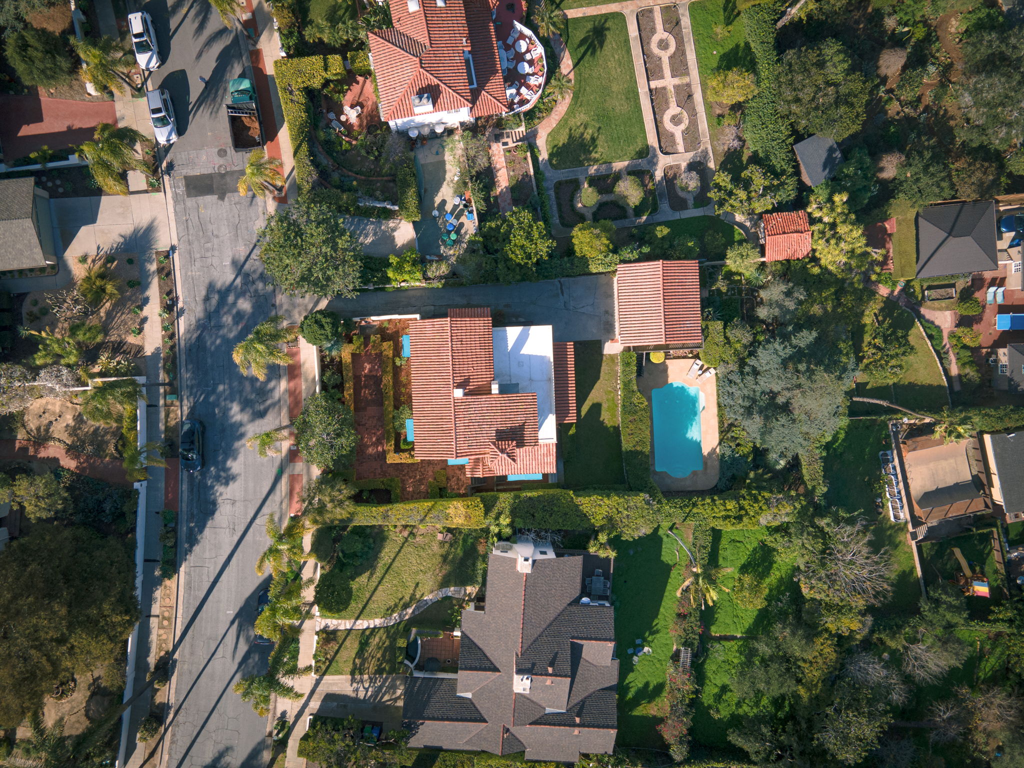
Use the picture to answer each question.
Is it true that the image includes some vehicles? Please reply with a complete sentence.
Yes, there's a vehicle here.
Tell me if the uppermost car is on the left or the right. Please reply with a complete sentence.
The uppermost car is on the left side of the image.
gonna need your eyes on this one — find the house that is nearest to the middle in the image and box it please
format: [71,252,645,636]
[402,306,578,481]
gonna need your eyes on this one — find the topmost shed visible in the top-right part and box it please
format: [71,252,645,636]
[789,134,844,190]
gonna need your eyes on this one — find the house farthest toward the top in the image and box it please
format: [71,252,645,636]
[366,0,510,138]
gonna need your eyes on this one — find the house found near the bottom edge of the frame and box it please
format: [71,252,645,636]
[402,539,619,763]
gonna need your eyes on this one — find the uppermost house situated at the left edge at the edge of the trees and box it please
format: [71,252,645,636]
[0,173,56,270]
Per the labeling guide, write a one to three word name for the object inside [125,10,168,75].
car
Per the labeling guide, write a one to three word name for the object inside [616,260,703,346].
building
